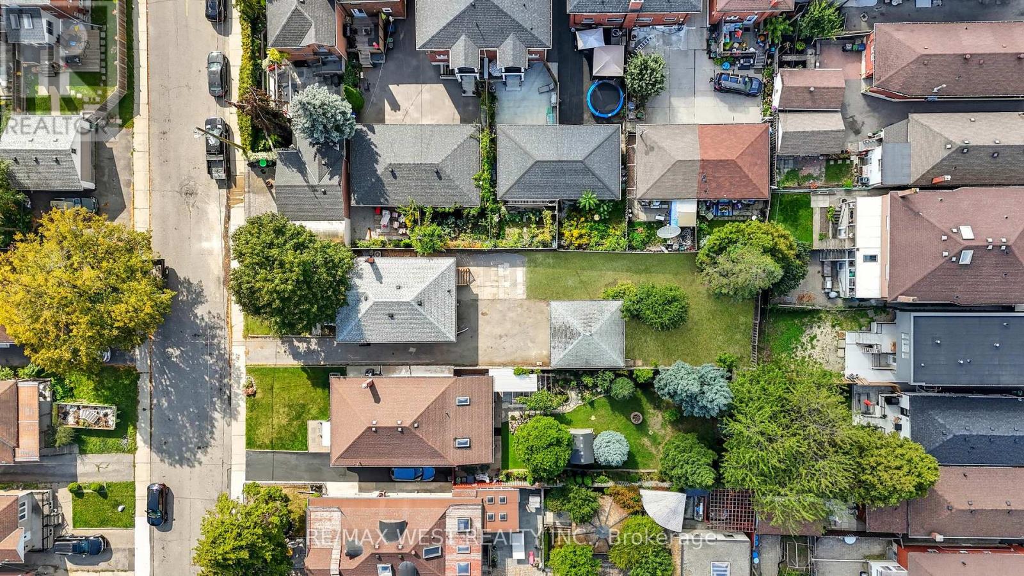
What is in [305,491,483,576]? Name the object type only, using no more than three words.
house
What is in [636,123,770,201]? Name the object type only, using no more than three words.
building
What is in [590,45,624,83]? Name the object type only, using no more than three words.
gazebo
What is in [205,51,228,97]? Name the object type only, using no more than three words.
car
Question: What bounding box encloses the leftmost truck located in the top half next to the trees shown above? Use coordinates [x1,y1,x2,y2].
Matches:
[45,193,99,215]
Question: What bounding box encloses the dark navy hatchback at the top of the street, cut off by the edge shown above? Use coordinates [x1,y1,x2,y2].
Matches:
[202,0,225,21]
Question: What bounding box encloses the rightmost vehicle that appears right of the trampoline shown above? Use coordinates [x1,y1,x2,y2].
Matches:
[712,74,762,99]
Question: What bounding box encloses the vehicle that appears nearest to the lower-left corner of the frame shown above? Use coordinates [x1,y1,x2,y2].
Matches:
[55,529,109,554]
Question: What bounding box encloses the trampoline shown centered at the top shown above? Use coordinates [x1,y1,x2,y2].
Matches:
[587,78,624,118]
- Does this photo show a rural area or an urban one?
urban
